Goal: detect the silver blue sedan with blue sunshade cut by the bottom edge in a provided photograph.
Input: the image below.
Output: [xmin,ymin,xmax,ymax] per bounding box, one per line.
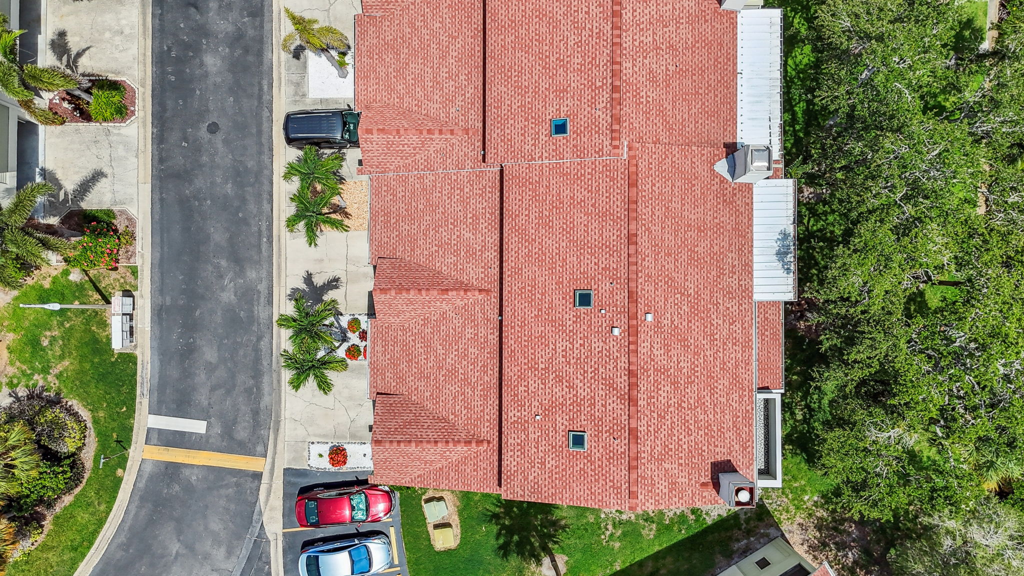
[296,534,394,576]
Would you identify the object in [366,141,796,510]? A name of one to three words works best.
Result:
house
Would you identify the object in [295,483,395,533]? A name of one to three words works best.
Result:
car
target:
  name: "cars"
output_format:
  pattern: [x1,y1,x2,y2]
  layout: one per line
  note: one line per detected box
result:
[296,534,394,576]
[295,483,395,533]
[282,108,361,151]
